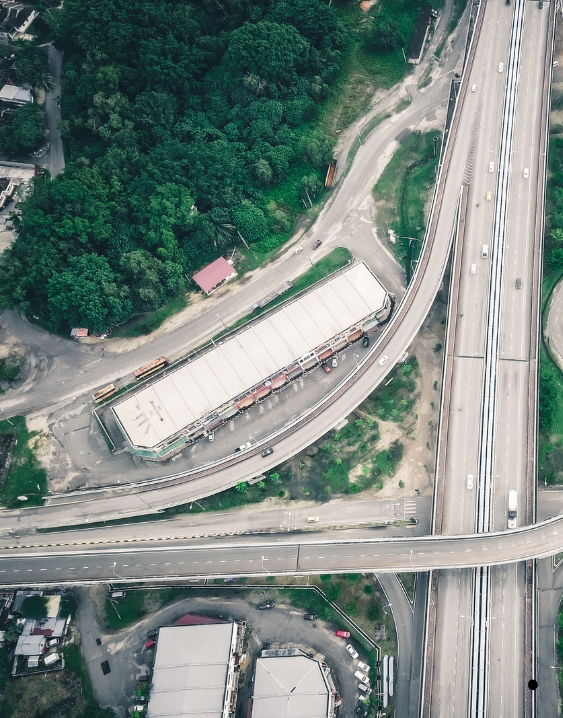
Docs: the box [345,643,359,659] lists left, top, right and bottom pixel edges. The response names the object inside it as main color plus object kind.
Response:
white car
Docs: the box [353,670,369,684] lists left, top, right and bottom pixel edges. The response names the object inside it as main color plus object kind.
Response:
white car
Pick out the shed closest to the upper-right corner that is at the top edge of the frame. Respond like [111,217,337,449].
[407,5,433,68]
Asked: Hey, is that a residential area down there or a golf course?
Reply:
residential area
